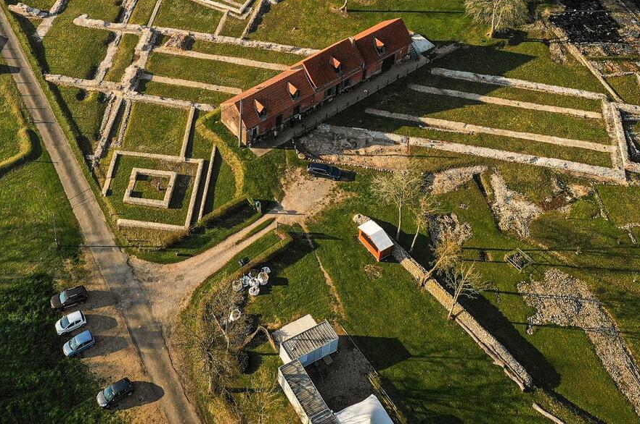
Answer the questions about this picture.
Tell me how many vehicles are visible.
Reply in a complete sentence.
In total, 5 vehicles can be seen.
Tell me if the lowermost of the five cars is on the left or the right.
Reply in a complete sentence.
The lowermost of the five cars sits on the left side.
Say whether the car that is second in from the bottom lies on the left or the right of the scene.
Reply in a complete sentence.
The car that is second in from the bottom sits on the left side.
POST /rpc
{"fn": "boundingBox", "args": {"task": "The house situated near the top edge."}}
[217,16,413,148]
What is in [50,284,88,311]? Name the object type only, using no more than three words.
car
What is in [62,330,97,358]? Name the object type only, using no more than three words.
car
